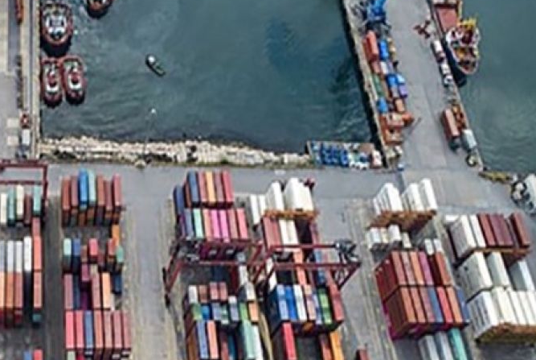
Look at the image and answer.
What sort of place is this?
port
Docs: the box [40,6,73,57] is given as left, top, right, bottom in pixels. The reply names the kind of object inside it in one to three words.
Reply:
boat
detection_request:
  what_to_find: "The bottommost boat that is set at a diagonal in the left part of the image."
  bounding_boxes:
[149,56,165,77]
